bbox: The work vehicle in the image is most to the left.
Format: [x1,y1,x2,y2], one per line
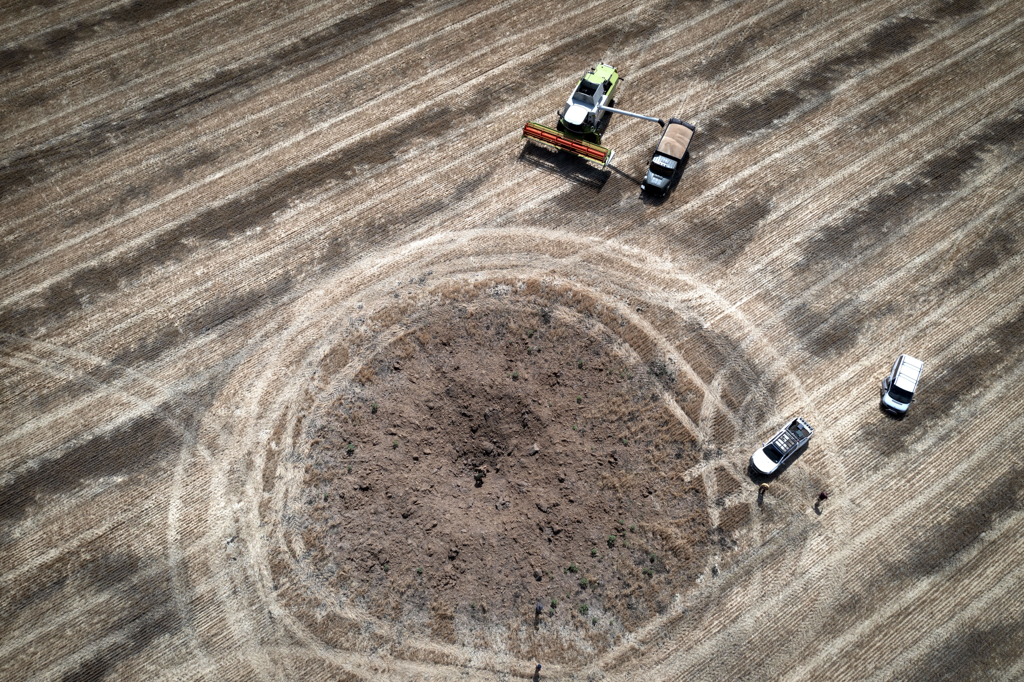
[518,63,665,175]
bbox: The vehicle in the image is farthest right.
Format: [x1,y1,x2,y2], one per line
[879,355,922,416]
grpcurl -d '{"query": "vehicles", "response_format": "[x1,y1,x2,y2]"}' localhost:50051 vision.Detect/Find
[518,63,665,175]
[751,416,815,477]
[879,355,922,416]
[640,118,696,200]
